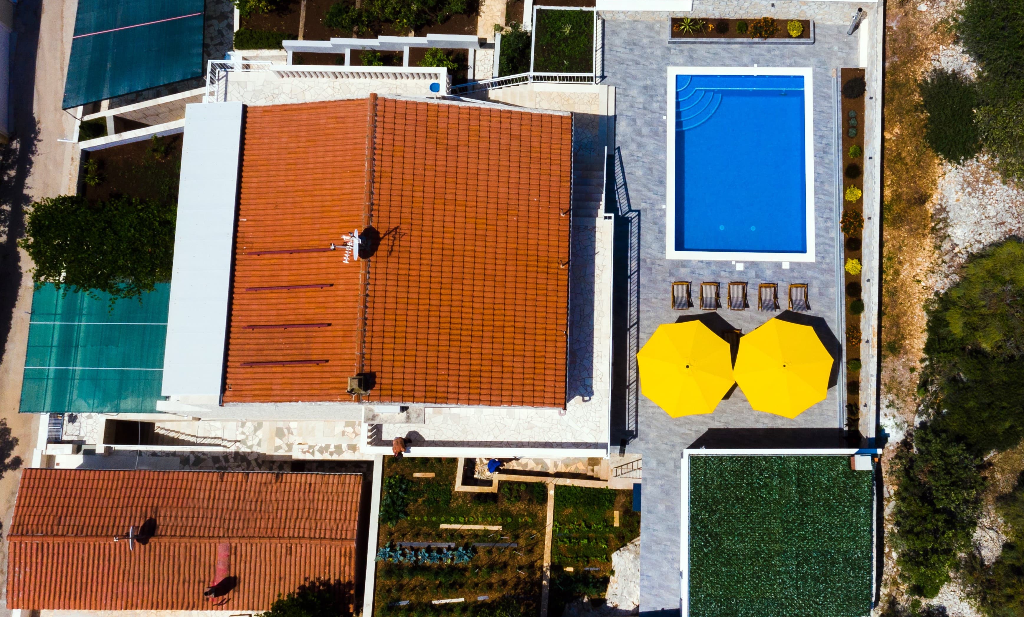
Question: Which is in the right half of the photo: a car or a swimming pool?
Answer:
swimming pool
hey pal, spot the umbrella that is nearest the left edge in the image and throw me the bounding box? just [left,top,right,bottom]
[636,319,736,418]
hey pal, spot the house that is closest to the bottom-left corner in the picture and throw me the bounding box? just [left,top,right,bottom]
[5,468,372,615]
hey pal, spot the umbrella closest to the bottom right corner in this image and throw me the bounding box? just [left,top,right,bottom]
[731,316,834,420]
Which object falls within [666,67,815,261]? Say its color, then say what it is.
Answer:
blue swimming pool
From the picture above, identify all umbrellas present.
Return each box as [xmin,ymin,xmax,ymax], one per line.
[731,316,834,420]
[636,319,736,418]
